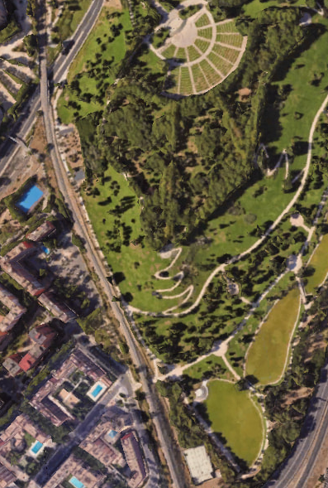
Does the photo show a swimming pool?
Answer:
Yes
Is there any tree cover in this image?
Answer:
Yes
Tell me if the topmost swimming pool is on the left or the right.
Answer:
left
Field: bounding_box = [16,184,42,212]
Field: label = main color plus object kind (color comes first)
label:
blue swimming pool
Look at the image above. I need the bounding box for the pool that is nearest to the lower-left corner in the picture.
[27,441,46,457]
